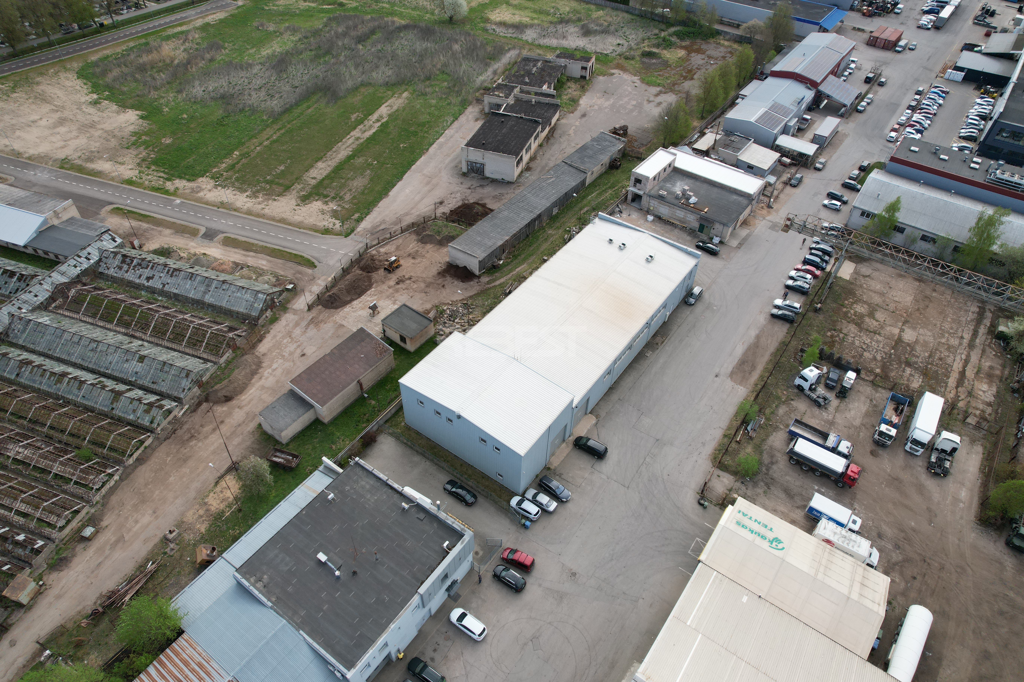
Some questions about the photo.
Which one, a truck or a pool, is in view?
truck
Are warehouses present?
Yes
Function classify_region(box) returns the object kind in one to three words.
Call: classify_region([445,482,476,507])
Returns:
car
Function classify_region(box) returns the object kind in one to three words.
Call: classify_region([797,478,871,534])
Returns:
truck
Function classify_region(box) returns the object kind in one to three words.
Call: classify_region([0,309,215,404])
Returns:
greenhouse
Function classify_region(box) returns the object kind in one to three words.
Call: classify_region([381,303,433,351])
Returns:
shed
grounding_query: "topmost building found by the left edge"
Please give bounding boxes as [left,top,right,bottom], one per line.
[0,181,79,265]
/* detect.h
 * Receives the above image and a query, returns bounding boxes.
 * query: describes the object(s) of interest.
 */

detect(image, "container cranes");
[778,208,1024,321]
